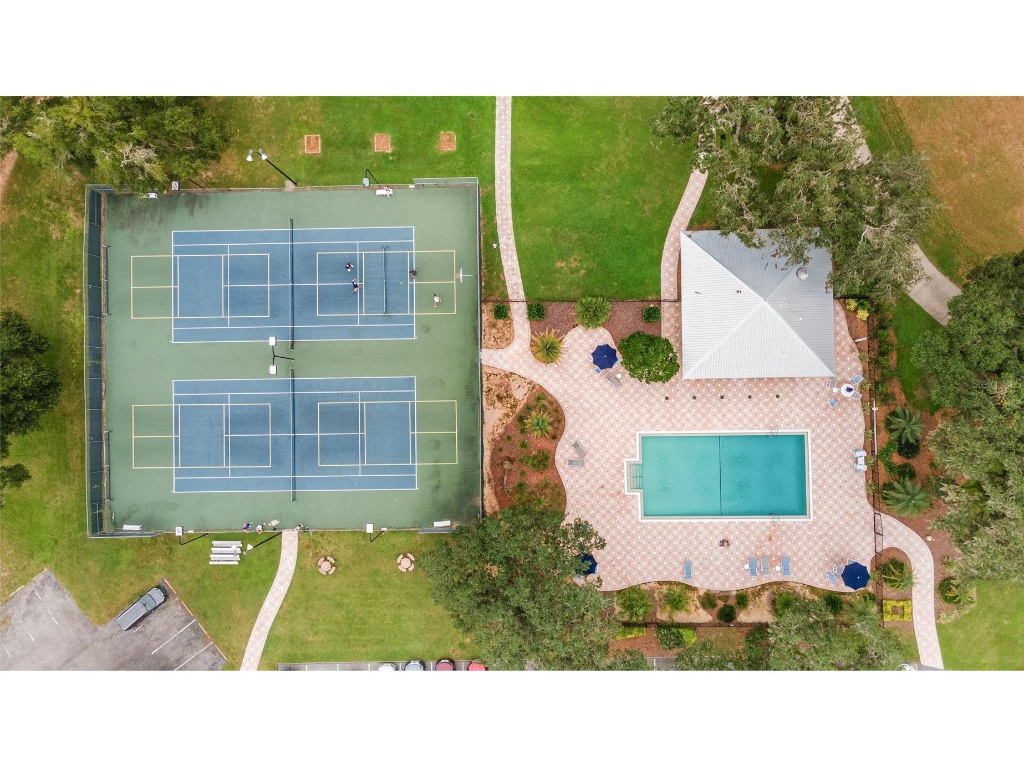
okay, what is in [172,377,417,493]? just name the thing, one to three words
tennis court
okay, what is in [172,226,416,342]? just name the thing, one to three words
tennis court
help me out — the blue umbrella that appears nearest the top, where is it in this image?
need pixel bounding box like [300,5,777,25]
[592,343,617,368]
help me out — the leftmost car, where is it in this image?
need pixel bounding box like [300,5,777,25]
[108,585,169,634]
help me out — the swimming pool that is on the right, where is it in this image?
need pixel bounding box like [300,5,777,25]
[624,426,817,526]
